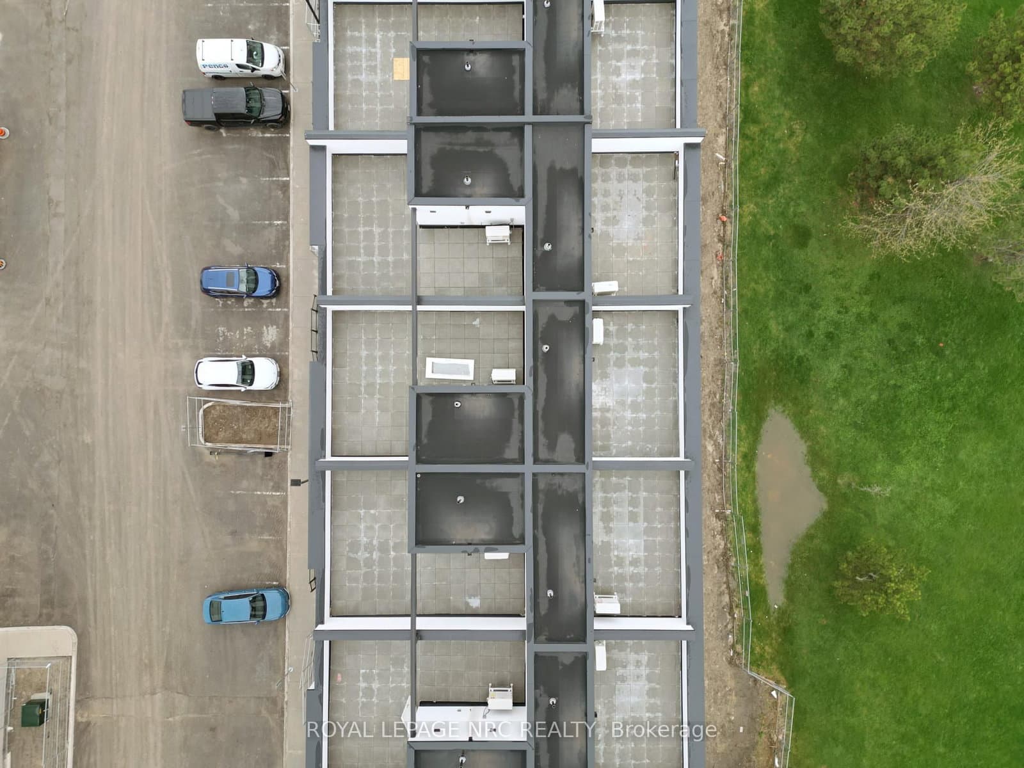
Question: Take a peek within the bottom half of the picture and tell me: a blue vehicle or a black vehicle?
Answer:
blue vehicle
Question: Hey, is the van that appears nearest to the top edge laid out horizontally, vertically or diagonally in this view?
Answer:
horizontally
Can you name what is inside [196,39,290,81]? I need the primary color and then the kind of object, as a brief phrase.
white van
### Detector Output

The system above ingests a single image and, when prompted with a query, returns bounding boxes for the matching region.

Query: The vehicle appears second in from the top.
[183,84,294,132]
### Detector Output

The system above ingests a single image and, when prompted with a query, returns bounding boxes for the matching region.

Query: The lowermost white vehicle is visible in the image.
[192,354,283,395]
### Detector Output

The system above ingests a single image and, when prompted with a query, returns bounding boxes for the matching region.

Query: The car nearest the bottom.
[204,584,295,626]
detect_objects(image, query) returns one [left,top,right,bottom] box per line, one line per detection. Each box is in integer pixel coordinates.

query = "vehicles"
[183,84,294,132]
[196,39,290,81]
[199,263,284,302]
[204,584,295,626]
[192,354,283,395]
